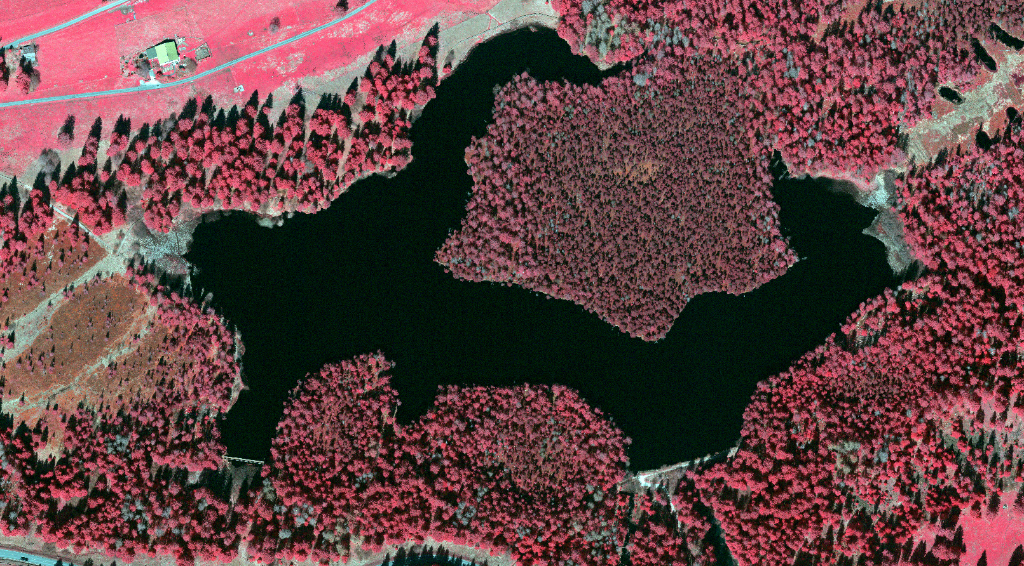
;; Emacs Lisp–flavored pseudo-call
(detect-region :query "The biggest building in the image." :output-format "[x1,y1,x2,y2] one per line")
[154,41,178,66]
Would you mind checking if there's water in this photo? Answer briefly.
Yes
